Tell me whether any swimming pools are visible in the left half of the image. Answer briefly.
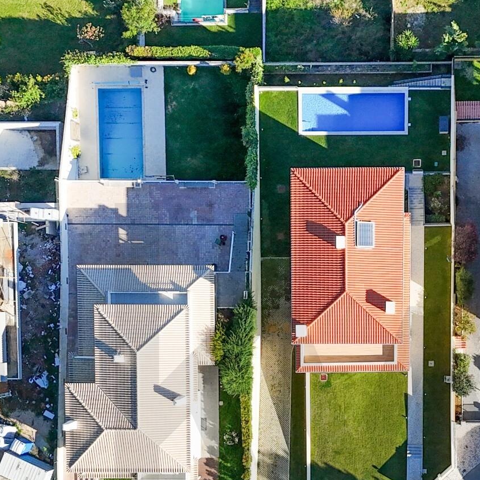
Yes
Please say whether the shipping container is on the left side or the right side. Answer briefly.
left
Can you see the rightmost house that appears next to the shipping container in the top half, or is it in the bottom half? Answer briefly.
bottom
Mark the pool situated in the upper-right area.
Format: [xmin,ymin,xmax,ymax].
[298,88,412,134]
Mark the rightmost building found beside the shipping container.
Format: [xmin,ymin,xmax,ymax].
[62,264,221,480]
